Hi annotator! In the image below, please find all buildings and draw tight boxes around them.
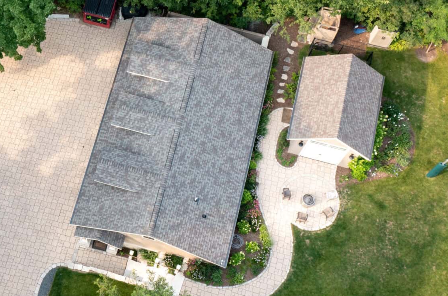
[284,53,386,170]
[69,17,275,269]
